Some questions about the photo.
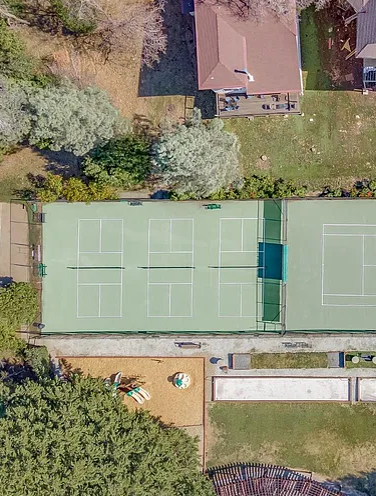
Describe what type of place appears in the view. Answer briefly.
sports ground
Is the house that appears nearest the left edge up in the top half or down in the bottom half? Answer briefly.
top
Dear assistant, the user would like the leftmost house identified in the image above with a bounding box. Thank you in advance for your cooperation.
[181,0,309,120]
